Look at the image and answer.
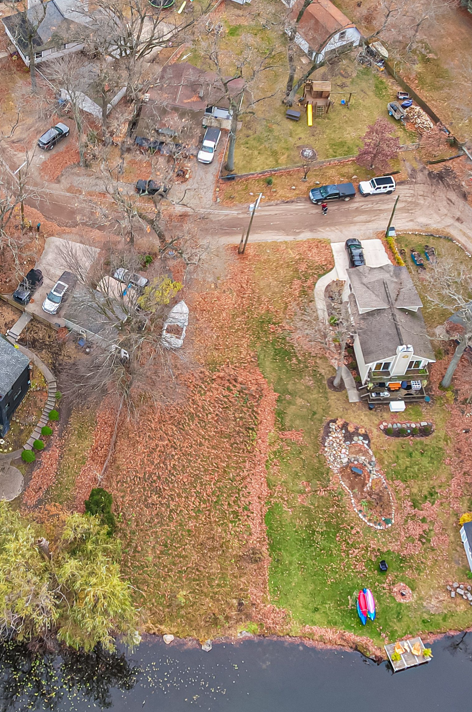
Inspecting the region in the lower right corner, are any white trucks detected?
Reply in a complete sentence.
No, I see no white truck in the lower right corner.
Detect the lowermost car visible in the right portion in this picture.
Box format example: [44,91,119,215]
[345,237,366,270]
